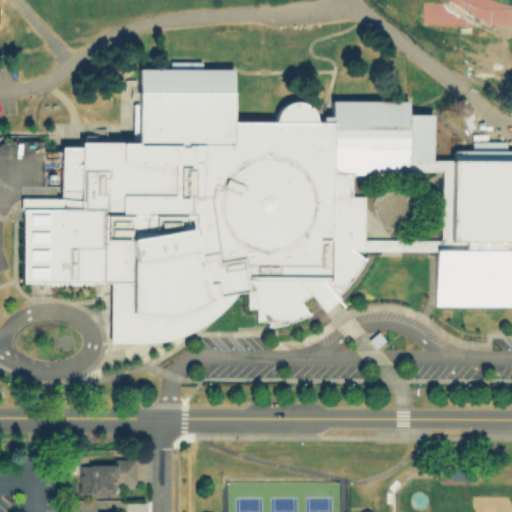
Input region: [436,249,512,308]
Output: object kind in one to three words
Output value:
building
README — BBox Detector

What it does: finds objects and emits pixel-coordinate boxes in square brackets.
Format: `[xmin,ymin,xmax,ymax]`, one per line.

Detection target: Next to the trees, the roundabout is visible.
[0,303,102,380]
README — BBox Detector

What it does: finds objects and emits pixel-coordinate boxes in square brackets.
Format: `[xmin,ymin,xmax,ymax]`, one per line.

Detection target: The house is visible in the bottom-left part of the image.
[80,460,137,498]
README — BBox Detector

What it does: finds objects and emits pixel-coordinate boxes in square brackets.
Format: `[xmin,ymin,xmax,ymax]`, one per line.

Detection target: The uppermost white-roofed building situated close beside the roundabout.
[23,62,367,344]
